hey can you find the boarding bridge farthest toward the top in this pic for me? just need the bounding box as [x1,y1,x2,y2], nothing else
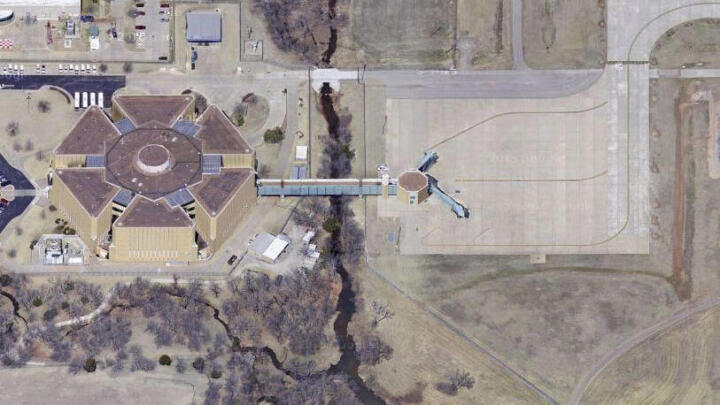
[415,153,438,174]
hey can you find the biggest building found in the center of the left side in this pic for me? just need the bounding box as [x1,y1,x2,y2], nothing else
[46,96,255,264]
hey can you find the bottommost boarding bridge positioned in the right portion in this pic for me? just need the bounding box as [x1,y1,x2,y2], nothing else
[428,179,468,220]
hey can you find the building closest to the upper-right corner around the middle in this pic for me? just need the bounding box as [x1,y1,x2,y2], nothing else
[398,170,428,205]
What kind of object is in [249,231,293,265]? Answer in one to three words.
building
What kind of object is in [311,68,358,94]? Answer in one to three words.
bridge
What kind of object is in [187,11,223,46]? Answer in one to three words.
building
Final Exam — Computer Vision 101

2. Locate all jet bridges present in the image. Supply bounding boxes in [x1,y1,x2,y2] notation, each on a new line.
[415,153,438,174]
[428,179,468,220]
